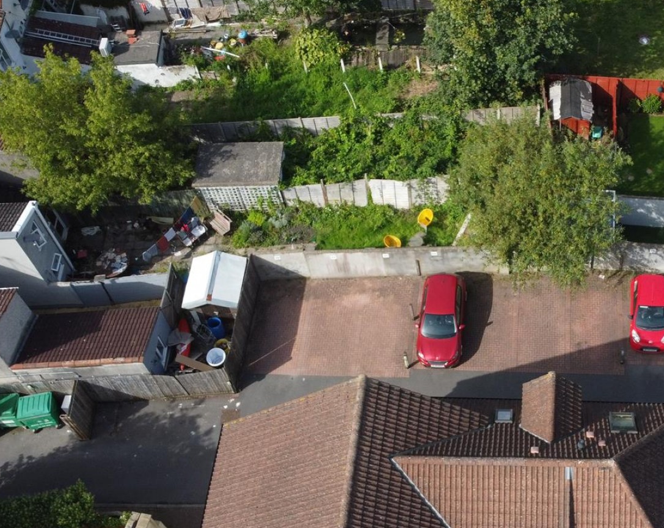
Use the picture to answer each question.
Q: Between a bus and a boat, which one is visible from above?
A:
boat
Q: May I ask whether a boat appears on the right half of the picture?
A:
No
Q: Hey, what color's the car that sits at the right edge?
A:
red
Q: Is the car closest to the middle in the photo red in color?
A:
Yes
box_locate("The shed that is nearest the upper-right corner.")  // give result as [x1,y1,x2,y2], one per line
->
[551,76,592,144]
